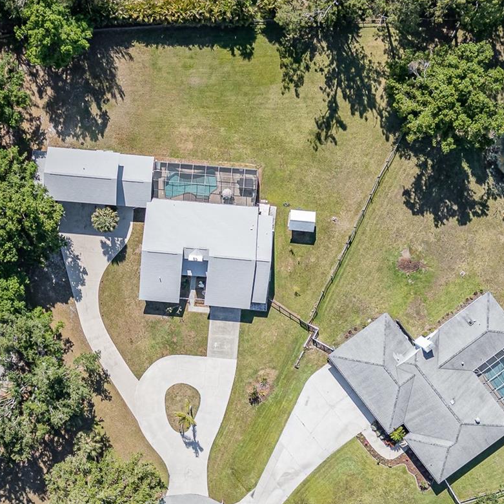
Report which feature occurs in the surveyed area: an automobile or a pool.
pool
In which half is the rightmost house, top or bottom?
bottom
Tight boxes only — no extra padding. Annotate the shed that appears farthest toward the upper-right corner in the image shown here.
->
[288,210,318,232]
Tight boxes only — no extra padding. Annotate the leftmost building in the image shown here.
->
[42,147,154,208]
